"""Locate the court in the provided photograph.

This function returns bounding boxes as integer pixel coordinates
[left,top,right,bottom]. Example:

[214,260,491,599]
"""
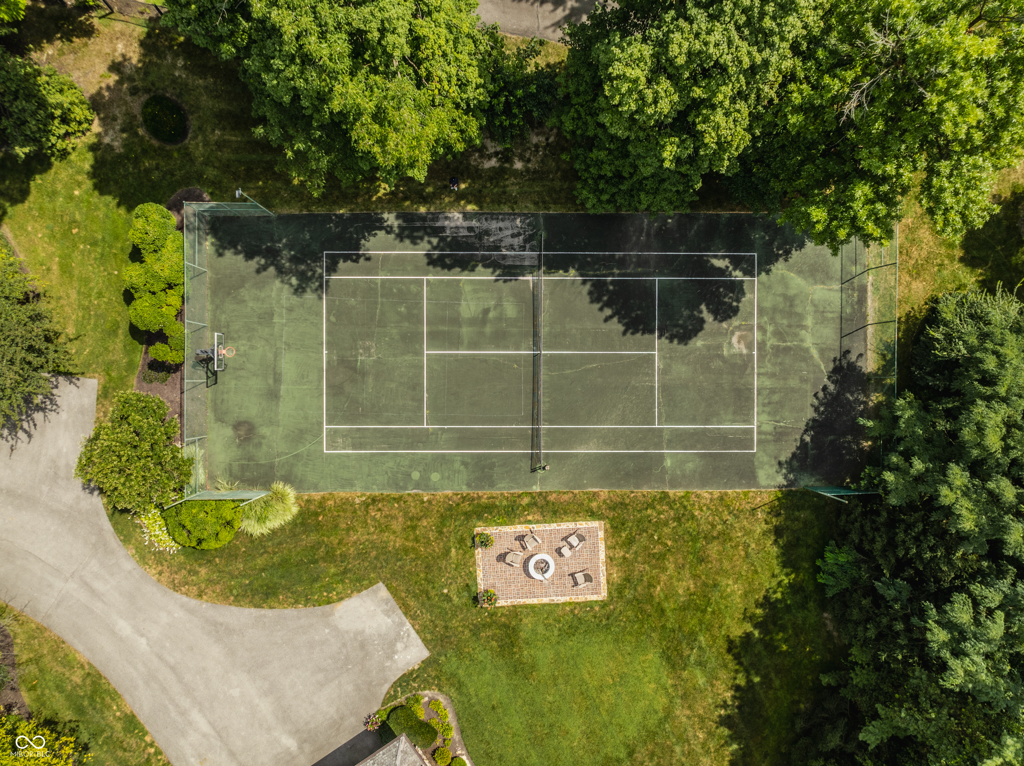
[207,211,869,492]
